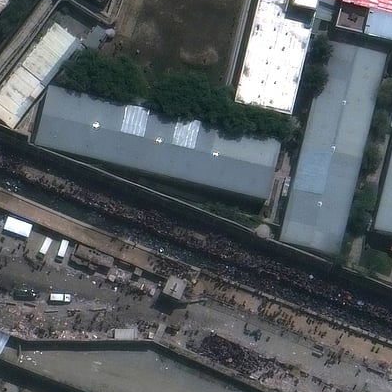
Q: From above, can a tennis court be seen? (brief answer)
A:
No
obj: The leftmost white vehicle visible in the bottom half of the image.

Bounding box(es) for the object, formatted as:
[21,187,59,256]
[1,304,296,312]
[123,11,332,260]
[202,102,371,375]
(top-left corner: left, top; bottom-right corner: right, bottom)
[34,236,53,261]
